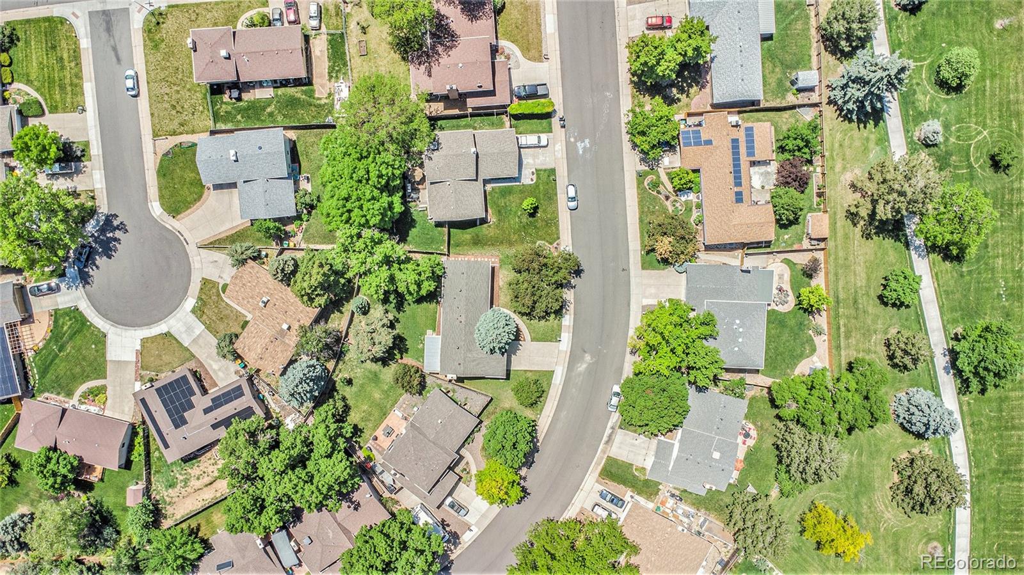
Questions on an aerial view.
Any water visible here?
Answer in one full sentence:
No, the scene doesn't show any water.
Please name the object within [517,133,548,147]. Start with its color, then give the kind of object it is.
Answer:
white car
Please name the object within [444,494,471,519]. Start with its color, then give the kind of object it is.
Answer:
white car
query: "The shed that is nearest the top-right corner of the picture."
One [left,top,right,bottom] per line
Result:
[787,71,818,90]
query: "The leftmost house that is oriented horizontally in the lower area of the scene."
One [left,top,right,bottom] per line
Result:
[14,398,135,470]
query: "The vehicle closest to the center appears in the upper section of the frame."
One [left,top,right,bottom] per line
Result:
[566,183,578,211]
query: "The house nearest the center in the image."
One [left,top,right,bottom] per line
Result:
[423,260,506,382]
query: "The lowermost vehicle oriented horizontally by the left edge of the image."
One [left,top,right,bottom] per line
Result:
[30,281,60,296]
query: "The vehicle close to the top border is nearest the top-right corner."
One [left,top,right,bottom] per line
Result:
[645,15,673,30]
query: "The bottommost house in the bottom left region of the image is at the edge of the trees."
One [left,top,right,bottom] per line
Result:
[204,528,287,575]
